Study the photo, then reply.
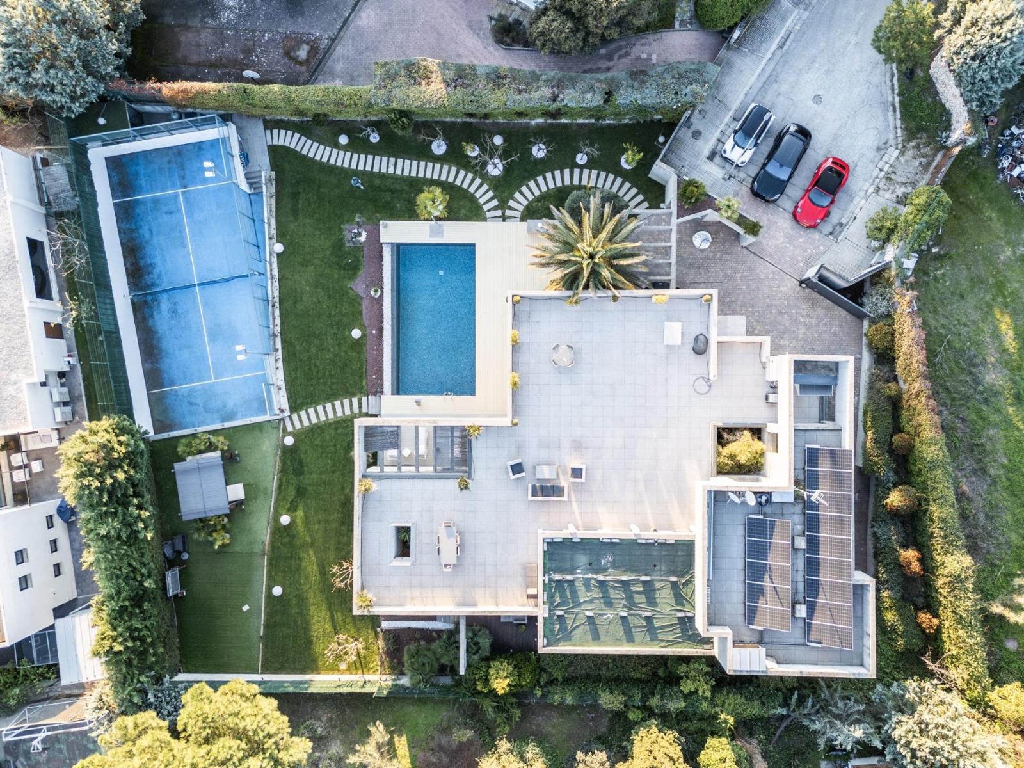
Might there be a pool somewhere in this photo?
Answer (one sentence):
Yes, there's a pool down there.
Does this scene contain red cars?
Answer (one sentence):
Yes, the picture does show a red car.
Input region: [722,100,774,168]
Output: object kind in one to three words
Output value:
car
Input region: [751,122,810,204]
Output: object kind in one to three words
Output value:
car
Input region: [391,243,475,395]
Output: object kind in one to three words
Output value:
swimming pool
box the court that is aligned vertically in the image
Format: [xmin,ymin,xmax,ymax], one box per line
[110,141,279,433]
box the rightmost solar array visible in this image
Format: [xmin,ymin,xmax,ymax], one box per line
[804,443,853,651]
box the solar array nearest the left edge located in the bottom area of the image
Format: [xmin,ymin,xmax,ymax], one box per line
[744,513,791,633]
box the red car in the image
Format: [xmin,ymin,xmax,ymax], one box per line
[793,157,847,230]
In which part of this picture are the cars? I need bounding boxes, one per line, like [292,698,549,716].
[793,157,847,230]
[722,100,774,168]
[751,122,810,204]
